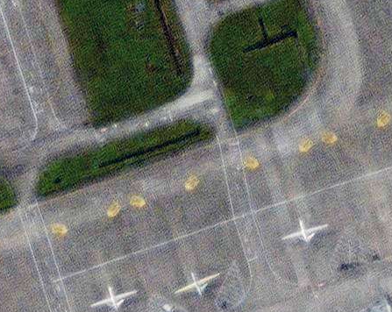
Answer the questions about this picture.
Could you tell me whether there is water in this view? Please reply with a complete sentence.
No, no water is visible.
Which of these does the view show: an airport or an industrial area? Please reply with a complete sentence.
This looks like an airport.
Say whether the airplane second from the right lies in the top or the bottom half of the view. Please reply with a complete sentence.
The airplane second from the right is in the bottom half of the image.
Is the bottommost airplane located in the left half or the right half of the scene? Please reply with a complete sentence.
The bottommost airplane sits on the left side.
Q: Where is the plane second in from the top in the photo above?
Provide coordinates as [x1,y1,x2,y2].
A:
[174,272,221,295]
